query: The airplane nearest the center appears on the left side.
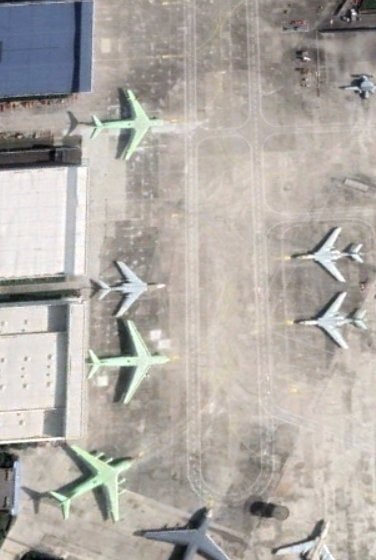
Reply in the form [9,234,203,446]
[95,262,164,316]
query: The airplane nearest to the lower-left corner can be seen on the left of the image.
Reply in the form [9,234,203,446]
[48,445,134,522]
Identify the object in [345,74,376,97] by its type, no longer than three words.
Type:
airplane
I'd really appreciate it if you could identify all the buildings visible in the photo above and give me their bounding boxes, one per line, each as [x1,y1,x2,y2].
[0,0,93,99]
[0,163,87,279]
[0,297,85,442]
[0,461,20,517]
[0,149,50,163]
